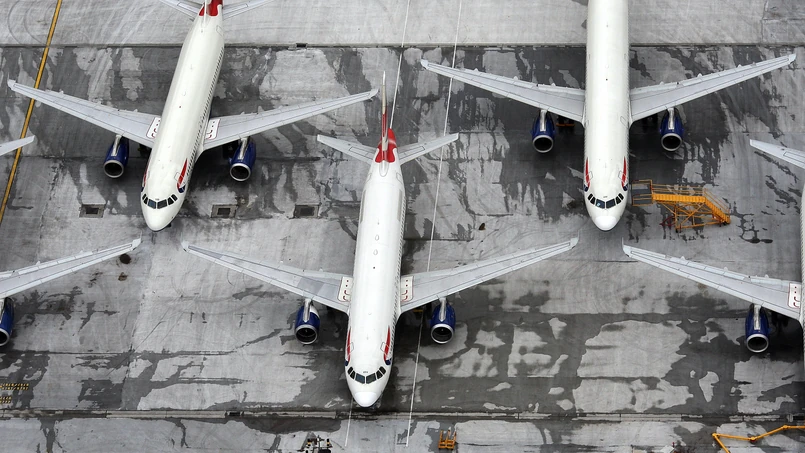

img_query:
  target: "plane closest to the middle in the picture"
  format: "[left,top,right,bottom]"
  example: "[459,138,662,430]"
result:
[185,74,575,408]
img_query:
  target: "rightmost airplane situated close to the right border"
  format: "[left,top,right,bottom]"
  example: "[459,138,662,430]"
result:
[627,137,805,350]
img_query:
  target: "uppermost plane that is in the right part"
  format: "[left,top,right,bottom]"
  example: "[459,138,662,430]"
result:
[425,0,792,233]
